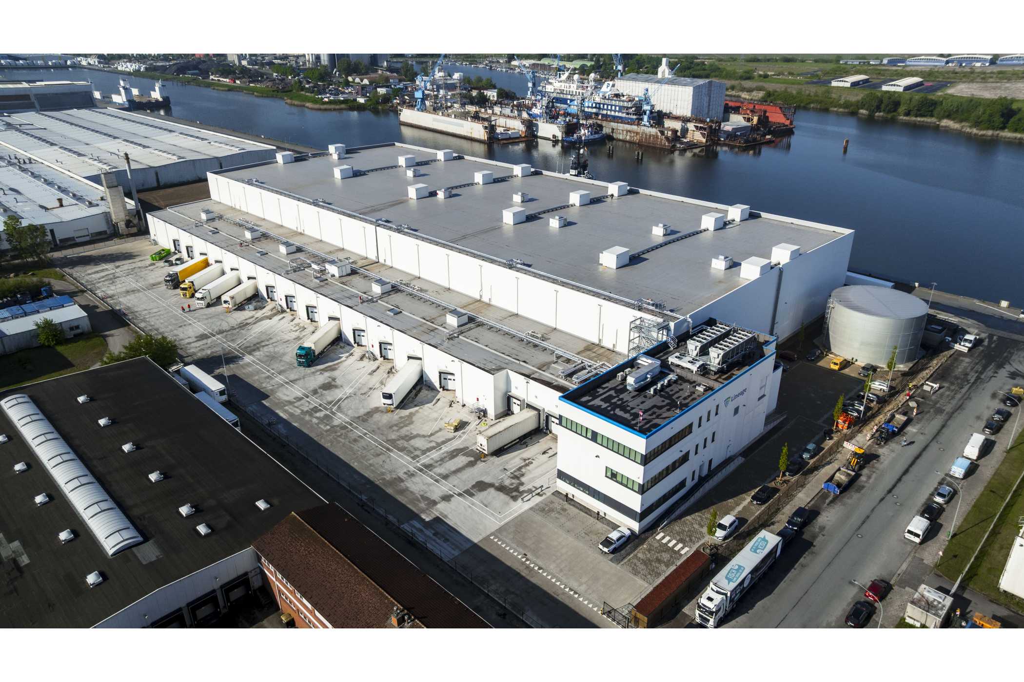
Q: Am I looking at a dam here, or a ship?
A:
ship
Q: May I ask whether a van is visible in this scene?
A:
Yes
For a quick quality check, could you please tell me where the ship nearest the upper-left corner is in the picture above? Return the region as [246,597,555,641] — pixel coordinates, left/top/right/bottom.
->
[110,73,170,106]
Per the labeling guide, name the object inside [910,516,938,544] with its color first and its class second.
white van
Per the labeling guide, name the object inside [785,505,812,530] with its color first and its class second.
black car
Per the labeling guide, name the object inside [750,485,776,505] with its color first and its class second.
black car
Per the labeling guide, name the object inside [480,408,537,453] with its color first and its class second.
white trailer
